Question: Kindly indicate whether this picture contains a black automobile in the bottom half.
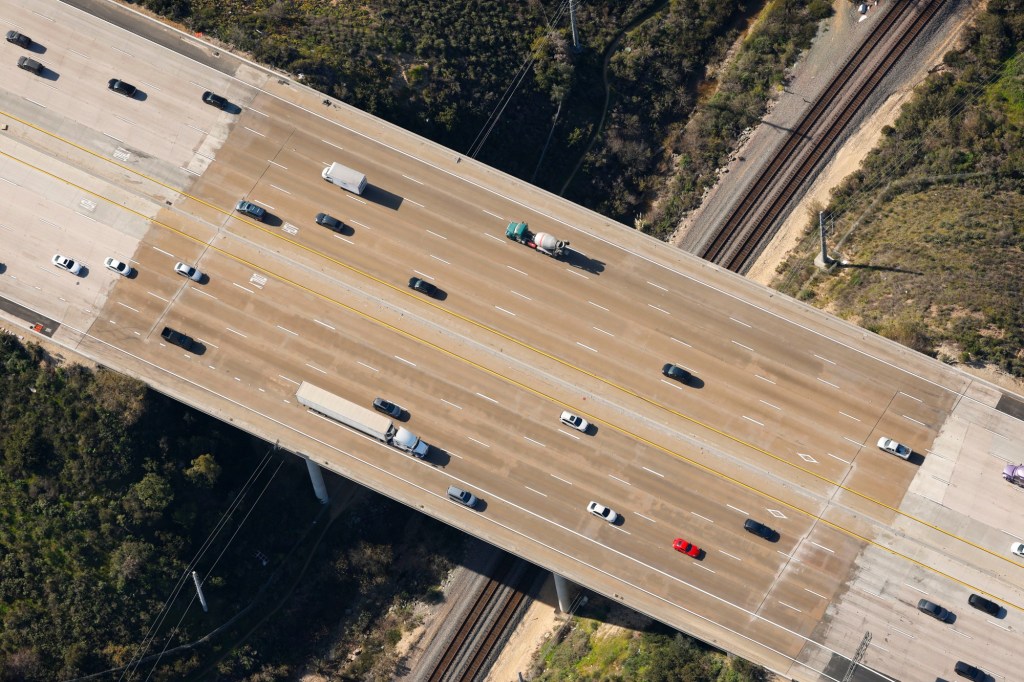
Yes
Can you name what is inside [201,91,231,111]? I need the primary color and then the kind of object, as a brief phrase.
black car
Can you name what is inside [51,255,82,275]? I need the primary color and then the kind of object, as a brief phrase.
white car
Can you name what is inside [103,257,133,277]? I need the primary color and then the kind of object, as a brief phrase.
white car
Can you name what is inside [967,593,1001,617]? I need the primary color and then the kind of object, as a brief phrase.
black car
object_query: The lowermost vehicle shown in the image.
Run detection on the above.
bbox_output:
[952,661,986,682]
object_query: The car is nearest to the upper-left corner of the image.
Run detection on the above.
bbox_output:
[5,31,33,50]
